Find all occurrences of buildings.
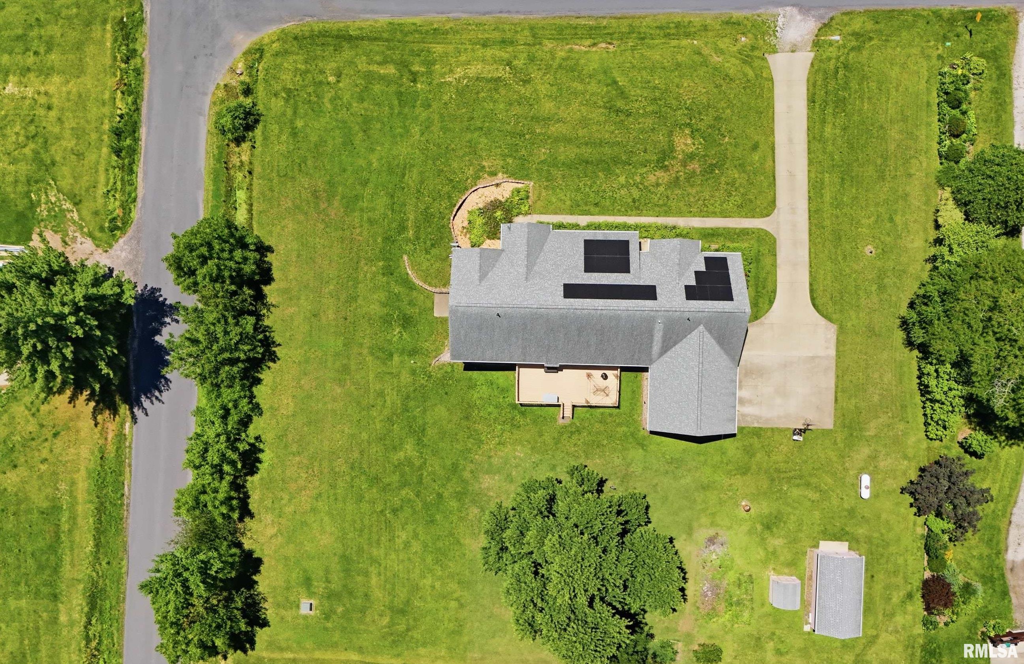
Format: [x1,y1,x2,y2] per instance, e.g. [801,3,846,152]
[448,221,751,438]
[767,576,800,609]
[808,549,866,639]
